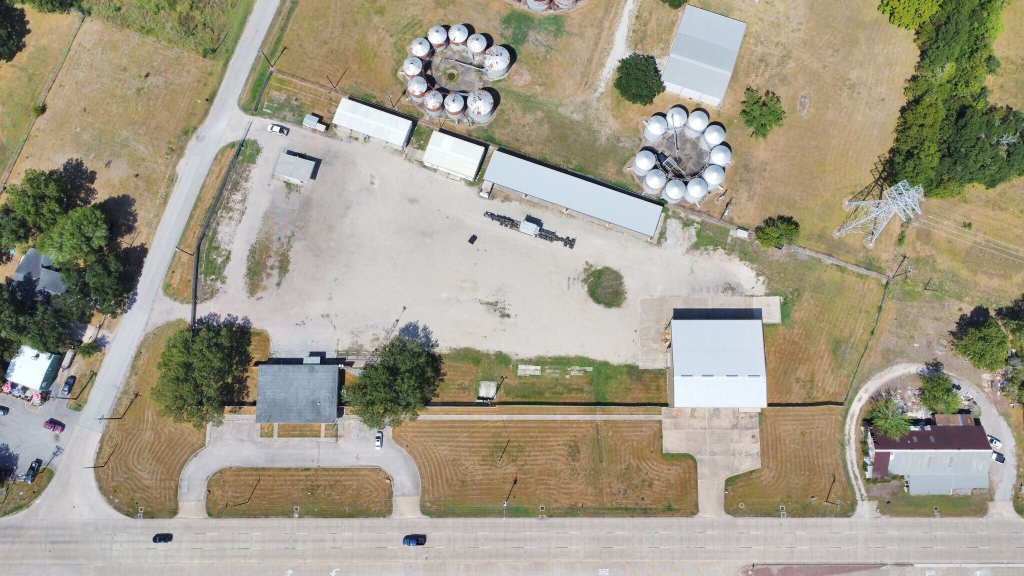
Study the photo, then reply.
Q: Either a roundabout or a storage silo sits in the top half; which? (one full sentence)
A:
What appears in the top half is a storage silo.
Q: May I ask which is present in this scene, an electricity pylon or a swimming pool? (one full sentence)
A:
The image shows an electricity pylon.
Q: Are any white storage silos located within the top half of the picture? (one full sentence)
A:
Yes, there is a white storage silo within the top half of the picture.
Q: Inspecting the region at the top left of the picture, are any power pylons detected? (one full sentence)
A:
No, I see no power pylon at the top left of the picture.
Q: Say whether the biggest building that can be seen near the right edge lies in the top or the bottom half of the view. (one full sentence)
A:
The bottom half of the photo is where the biggest building that can be seen near the right edge is.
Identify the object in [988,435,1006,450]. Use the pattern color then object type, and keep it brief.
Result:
white car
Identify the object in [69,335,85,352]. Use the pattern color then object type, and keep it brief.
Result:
black car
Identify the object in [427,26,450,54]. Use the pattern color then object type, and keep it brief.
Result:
white silo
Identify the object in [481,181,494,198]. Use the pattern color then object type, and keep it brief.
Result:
white vehicle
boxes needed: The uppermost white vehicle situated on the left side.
[267,124,289,136]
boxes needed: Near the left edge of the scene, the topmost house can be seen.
[9,249,62,302]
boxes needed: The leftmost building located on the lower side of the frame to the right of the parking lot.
[255,355,355,423]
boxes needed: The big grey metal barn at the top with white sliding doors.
[660,5,746,106]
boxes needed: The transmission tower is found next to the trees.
[836,181,924,246]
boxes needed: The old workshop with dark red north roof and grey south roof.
[862,425,992,495]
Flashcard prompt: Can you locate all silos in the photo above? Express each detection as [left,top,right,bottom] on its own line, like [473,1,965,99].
[660,179,686,205]
[448,24,468,53]
[410,39,433,67]
[705,145,734,171]
[466,89,495,124]
[699,164,728,197]
[665,108,687,135]
[641,169,671,199]
[427,26,450,54]
[467,34,487,62]
[444,93,466,127]
[638,115,668,142]
[624,150,656,177]
[699,125,725,156]
[403,76,430,104]
[397,56,426,81]
[684,177,710,210]
[483,45,511,81]
[423,90,445,123]
[678,111,709,138]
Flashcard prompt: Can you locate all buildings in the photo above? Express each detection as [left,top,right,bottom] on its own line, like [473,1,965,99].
[9,249,62,302]
[5,344,62,390]
[660,5,746,106]
[273,153,316,185]
[482,149,664,244]
[862,425,992,495]
[667,320,768,415]
[422,131,485,182]
[303,114,321,131]
[255,355,355,423]
[333,98,413,151]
